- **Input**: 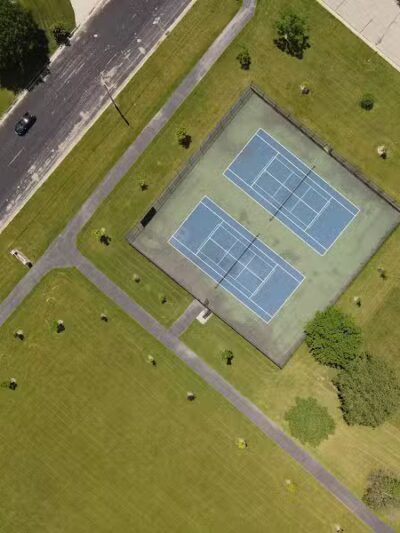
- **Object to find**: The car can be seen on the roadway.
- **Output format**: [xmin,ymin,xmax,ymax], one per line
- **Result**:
[13,111,35,135]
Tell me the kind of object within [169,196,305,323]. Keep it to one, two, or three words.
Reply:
tennis court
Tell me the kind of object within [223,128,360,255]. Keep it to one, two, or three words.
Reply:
tennis court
